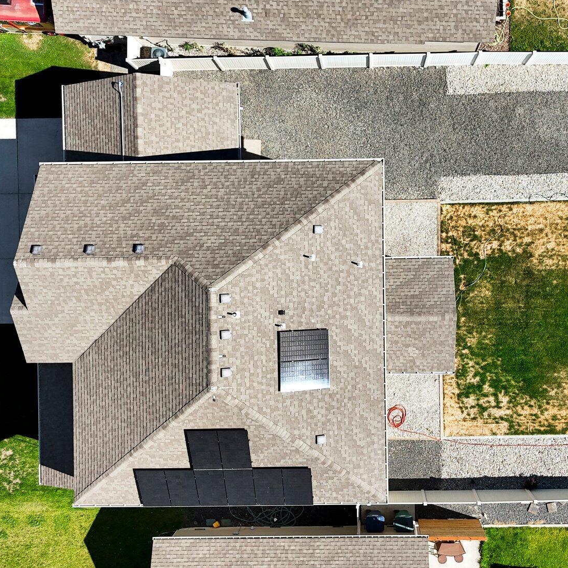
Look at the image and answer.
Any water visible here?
No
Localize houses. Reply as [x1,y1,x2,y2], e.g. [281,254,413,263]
[49,0,496,48]
[149,526,430,568]
[10,72,457,509]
